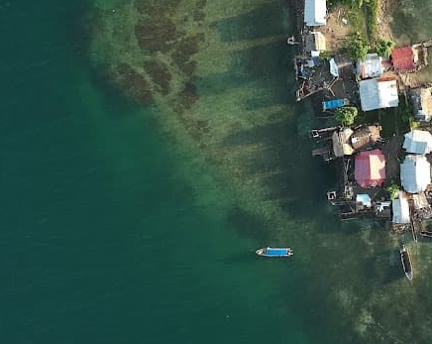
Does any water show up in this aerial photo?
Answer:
Yes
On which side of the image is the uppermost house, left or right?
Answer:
right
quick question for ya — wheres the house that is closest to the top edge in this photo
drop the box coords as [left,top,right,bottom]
[304,0,326,26]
